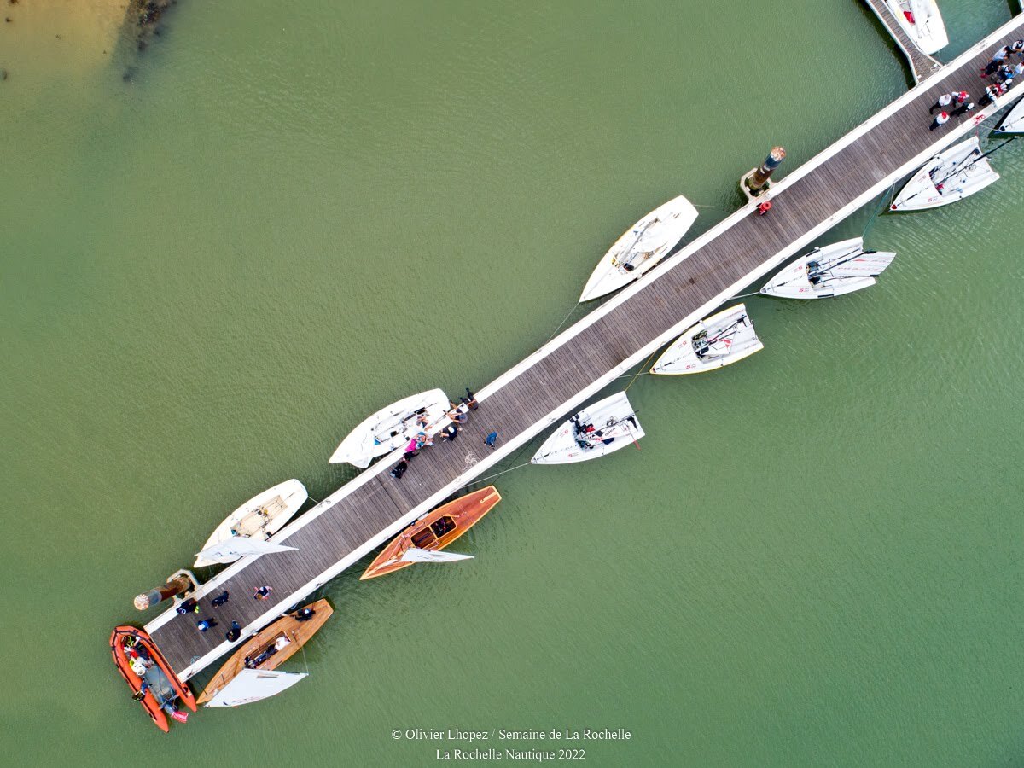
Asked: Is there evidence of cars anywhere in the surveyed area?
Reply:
No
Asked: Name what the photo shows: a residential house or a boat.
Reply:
boat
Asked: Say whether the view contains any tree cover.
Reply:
No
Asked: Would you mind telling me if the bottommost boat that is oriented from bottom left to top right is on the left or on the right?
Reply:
left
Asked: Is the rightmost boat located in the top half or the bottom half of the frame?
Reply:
top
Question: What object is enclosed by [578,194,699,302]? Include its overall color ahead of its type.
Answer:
white boat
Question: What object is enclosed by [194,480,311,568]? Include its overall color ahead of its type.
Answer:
white boat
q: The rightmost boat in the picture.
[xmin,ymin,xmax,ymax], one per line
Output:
[998,98,1024,136]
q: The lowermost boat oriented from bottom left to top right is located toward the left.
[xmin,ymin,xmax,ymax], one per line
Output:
[197,598,335,706]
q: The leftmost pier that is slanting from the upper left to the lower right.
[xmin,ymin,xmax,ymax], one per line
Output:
[864,0,945,86]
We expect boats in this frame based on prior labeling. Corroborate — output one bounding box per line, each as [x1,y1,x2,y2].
[649,303,764,376]
[359,485,501,580]
[530,391,645,465]
[998,98,1024,136]
[194,480,311,568]
[889,135,1016,212]
[112,626,196,732]
[578,194,699,302]
[760,236,896,300]
[328,389,451,467]
[197,598,335,706]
